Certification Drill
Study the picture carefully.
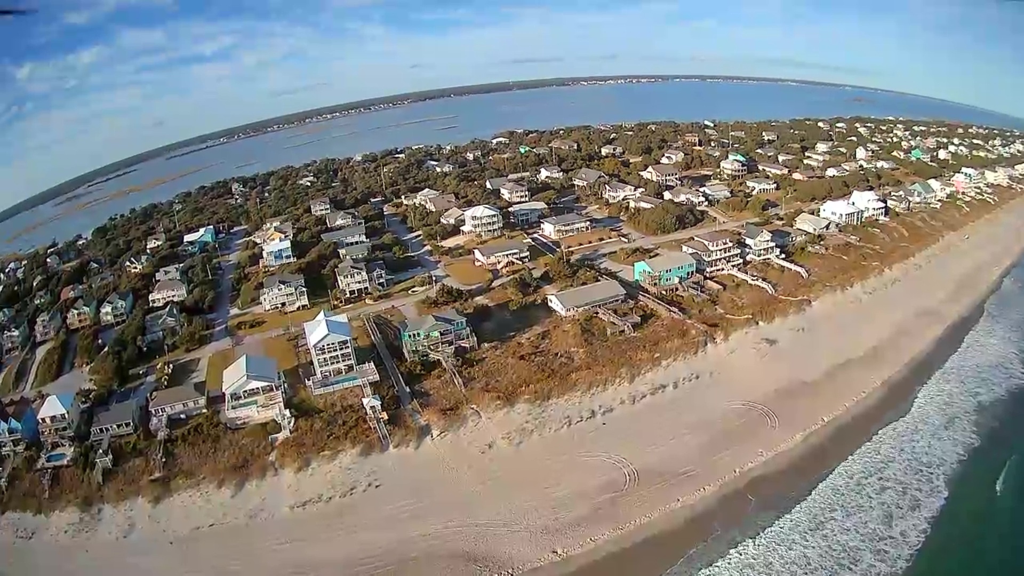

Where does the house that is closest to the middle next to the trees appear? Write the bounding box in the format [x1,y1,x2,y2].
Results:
[476,236,532,272]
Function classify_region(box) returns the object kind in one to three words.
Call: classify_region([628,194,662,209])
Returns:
house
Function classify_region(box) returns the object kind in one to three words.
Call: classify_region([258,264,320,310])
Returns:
house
